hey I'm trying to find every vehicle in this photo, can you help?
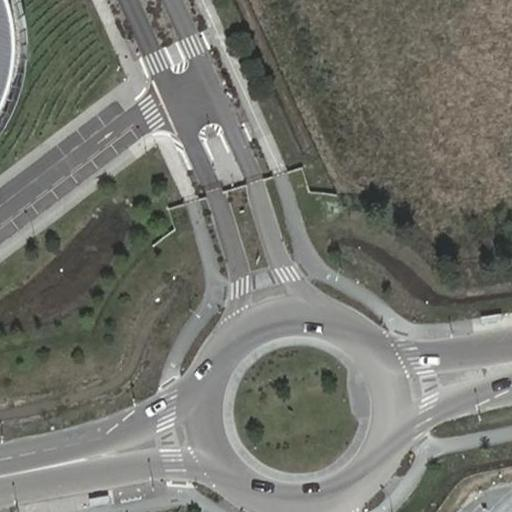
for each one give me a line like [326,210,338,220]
[252,482,274,492]
[302,484,320,493]
[304,324,323,333]
[146,400,166,415]
[420,356,440,366]
[196,360,212,378]
[492,378,512,390]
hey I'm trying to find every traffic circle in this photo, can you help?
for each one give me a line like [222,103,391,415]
[150,279,448,512]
